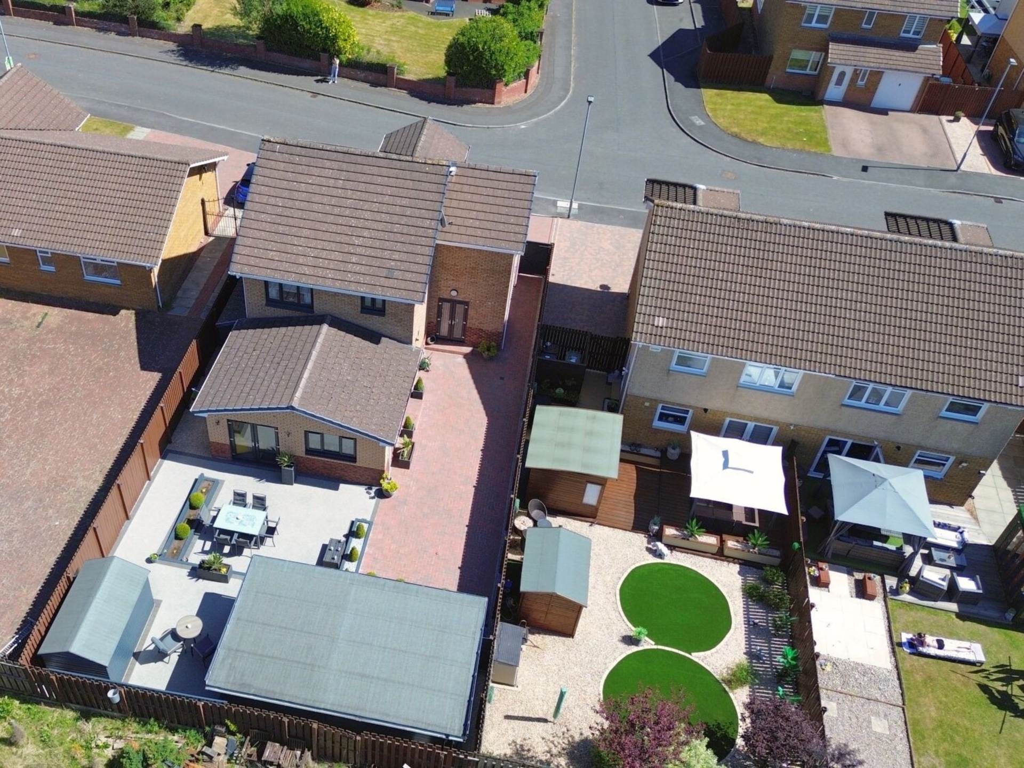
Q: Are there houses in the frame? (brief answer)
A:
Yes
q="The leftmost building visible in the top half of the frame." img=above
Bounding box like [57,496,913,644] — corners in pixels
[0,60,228,308]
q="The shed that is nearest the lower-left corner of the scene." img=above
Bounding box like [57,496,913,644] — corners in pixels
[31,555,156,683]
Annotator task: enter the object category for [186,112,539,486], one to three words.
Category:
house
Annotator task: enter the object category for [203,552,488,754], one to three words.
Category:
building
